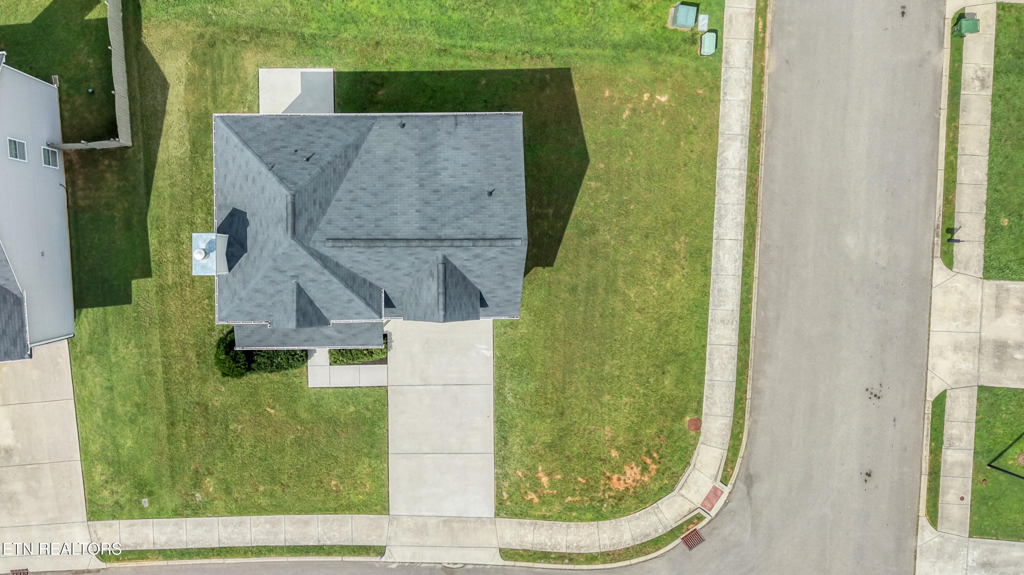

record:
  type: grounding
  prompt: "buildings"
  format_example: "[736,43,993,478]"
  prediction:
[0,52,74,363]
[193,110,529,352]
